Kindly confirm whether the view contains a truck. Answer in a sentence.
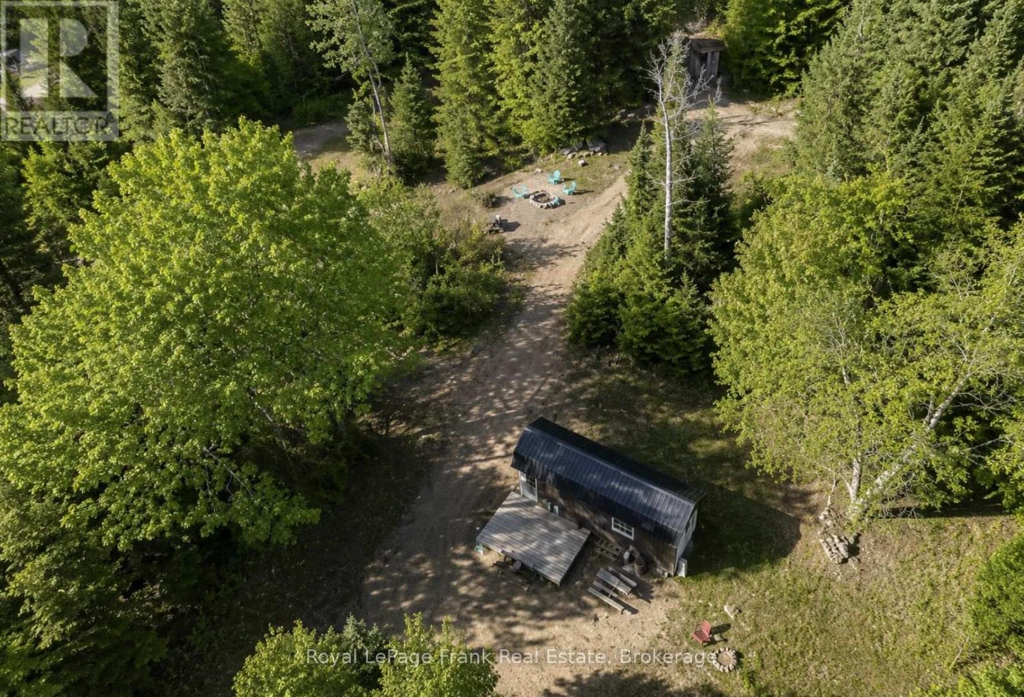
No, the frame has no truck in it.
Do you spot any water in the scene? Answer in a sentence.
No, no water is visible.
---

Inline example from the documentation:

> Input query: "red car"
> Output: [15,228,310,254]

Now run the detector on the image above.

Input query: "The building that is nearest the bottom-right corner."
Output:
[515,420,706,575]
